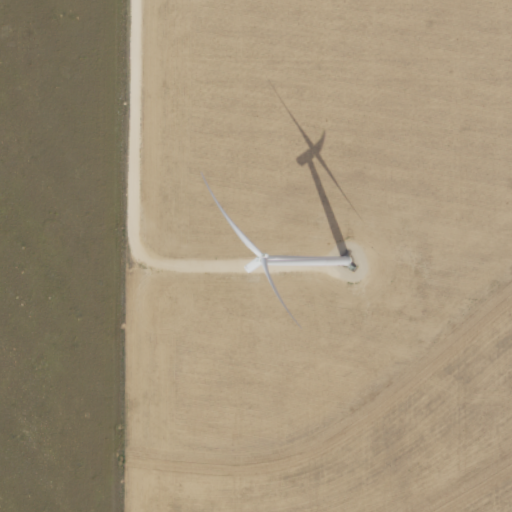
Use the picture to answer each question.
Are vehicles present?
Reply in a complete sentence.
No, the scene contains no vehicle.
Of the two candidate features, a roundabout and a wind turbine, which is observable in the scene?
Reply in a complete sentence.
Visible in the photo is a wind turbine.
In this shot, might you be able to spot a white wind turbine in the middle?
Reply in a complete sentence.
Yes, you'll find a white wind turbine in the middle.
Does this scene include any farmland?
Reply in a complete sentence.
Yes, the picture does contain farmland.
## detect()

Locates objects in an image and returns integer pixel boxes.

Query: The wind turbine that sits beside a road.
[202,180,354,332]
